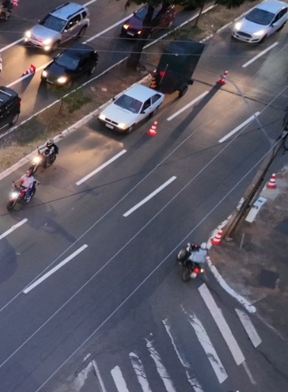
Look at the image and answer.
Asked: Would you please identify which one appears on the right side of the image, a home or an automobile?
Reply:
automobile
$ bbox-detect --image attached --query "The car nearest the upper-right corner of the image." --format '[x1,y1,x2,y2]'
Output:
[232,0,288,42]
